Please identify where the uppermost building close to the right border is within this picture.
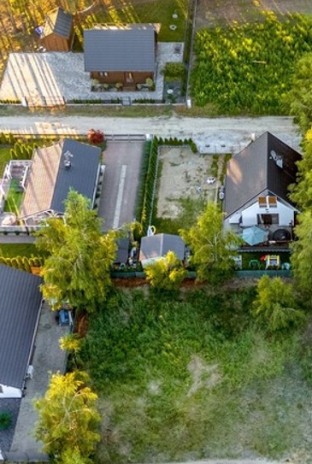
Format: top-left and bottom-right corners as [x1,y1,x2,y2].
[227,130,302,228]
